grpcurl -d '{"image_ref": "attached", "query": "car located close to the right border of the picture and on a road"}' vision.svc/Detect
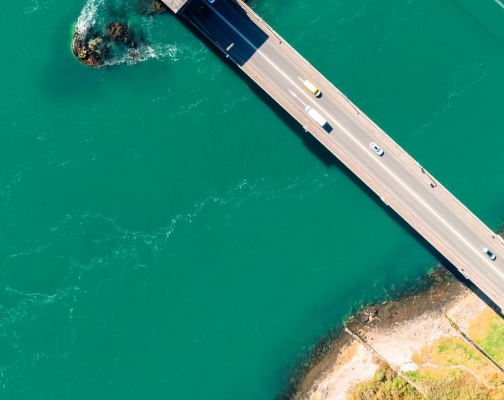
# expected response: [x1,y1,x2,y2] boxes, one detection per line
[482,248,496,261]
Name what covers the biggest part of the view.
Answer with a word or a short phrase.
water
